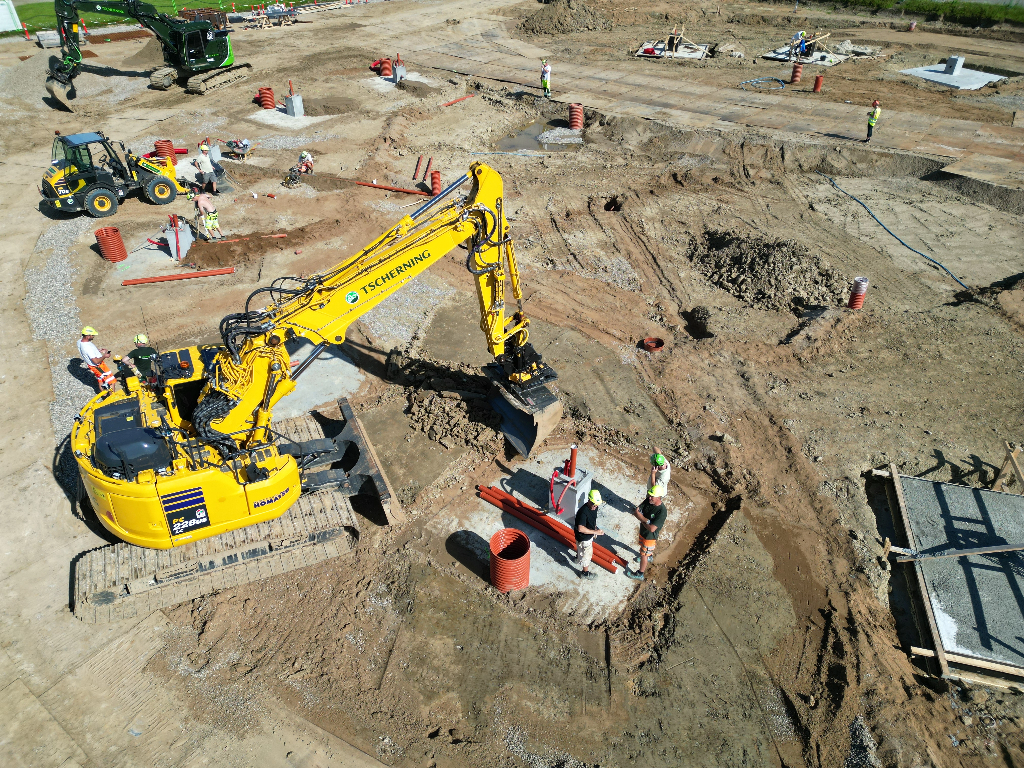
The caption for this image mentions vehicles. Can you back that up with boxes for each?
[30,124,227,223]
[46,0,255,108]
[66,158,568,616]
